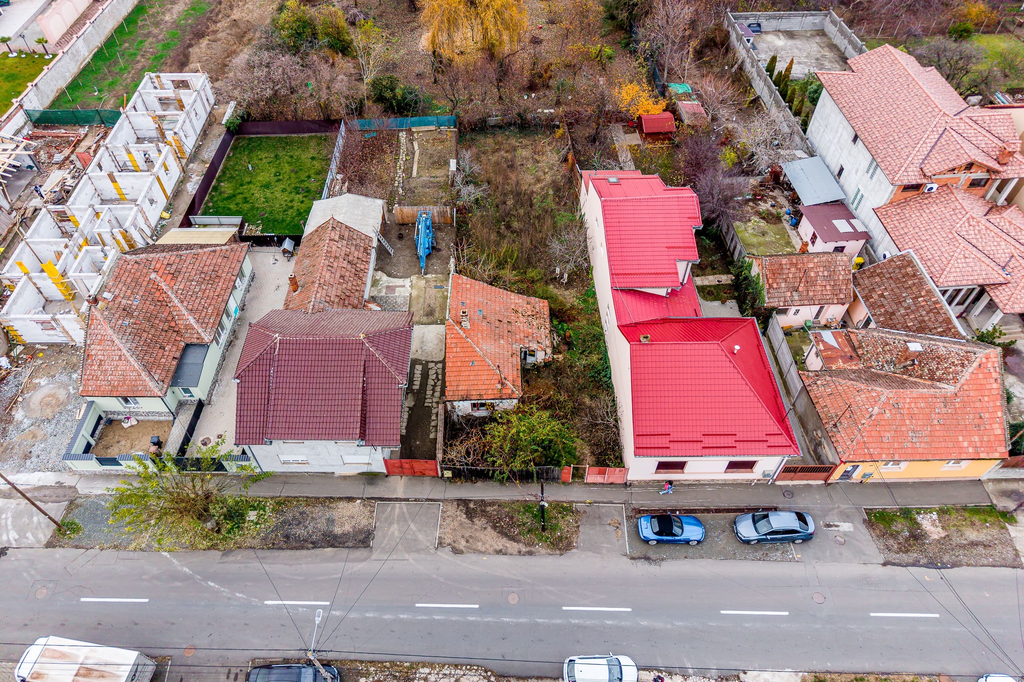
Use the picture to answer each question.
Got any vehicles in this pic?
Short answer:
Yes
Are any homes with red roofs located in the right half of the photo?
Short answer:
Yes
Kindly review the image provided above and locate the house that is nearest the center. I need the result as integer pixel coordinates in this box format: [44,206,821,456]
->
[443,272,552,421]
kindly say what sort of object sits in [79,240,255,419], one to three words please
house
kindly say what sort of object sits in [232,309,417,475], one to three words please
house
